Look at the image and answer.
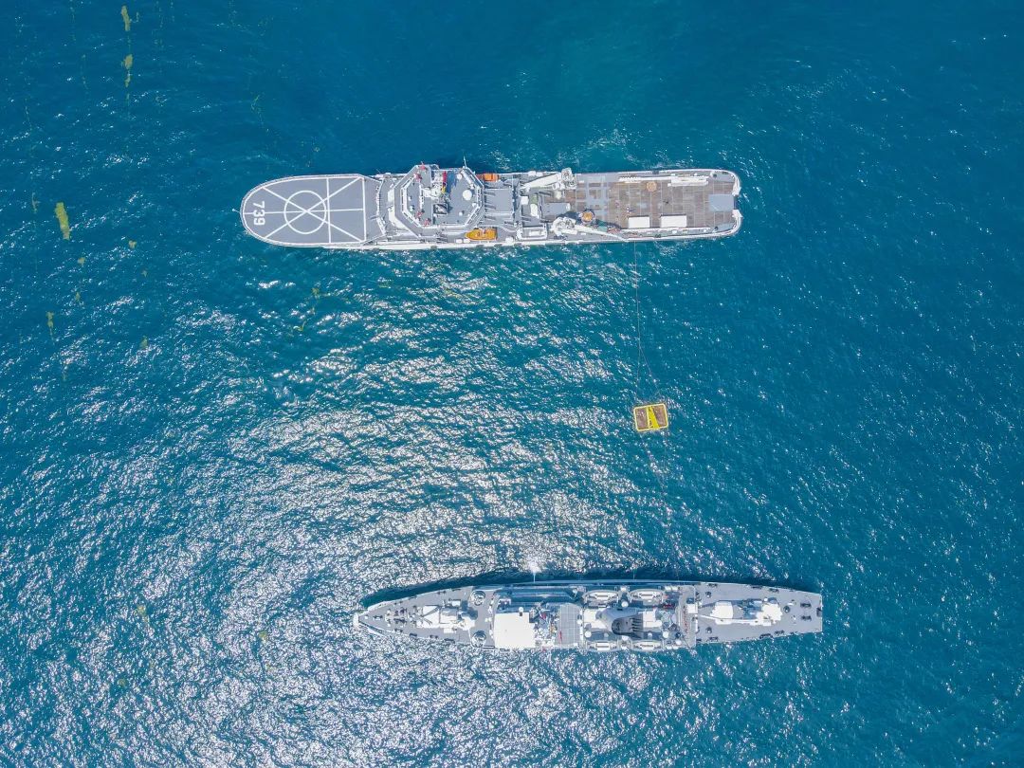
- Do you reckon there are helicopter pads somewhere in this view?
Yes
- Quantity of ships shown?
2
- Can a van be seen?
No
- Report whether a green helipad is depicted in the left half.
No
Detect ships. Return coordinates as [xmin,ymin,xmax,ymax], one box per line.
[322,161,744,249]
[353,577,823,651]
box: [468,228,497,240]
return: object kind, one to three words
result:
boat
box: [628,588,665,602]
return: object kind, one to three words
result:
boat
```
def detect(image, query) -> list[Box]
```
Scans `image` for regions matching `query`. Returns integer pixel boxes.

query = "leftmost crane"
[520,167,578,192]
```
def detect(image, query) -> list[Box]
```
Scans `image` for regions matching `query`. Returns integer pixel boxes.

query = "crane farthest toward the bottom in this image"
[550,215,630,243]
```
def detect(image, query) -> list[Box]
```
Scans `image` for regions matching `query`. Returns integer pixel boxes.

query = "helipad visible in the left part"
[232,174,368,248]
